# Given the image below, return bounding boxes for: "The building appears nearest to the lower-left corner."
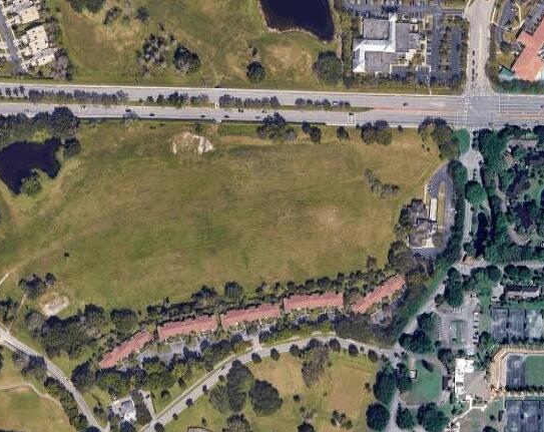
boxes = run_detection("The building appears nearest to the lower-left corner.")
[112,401,134,421]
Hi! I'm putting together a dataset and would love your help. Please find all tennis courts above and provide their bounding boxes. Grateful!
[525,310,544,340]
[506,355,524,389]
[522,400,539,432]
[509,309,526,340]
[491,309,509,340]
[505,400,523,432]
[525,355,544,388]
